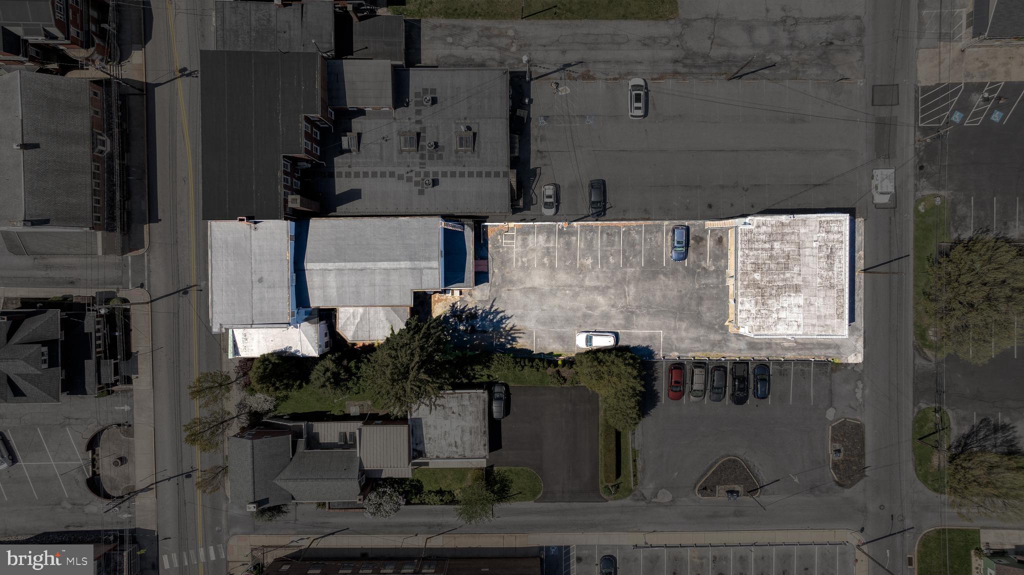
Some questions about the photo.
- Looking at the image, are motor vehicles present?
Yes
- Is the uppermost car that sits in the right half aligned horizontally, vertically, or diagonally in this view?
vertically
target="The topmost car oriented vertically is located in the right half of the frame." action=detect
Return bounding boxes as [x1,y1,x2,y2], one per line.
[628,79,648,120]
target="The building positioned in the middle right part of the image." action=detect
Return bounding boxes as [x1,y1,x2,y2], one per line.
[728,214,850,341]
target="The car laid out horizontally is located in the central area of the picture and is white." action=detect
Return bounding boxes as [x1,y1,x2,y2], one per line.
[577,330,617,349]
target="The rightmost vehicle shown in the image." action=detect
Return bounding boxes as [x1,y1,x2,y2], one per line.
[871,167,898,208]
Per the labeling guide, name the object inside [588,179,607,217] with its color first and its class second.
black car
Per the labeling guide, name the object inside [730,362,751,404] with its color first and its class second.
black truck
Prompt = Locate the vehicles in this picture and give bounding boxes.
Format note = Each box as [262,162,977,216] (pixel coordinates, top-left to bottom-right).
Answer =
[489,382,508,419]
[588,179,607,217]
[709,365,729,401]
[541,184,558,216]
[667,363,687,400]
[751,364,772,400]
[577,330,617,349]
[671,225,690,262]
[688,362,709,402]
[730,362,751,404]
[0,430,16,469]
[628,79,648,120]
[871,167,898,208]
